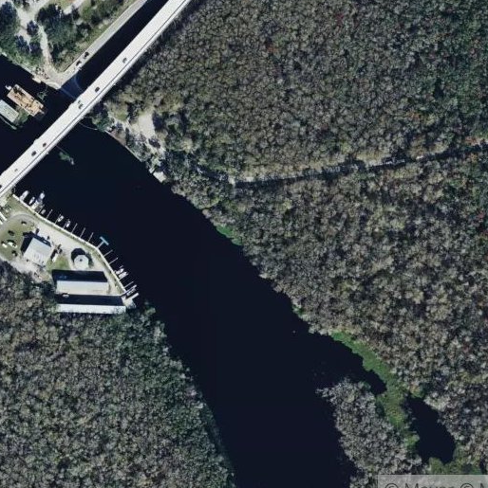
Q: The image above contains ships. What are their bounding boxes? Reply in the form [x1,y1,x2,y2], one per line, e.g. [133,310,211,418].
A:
[0,100,19,122]
[9,86,43,117]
